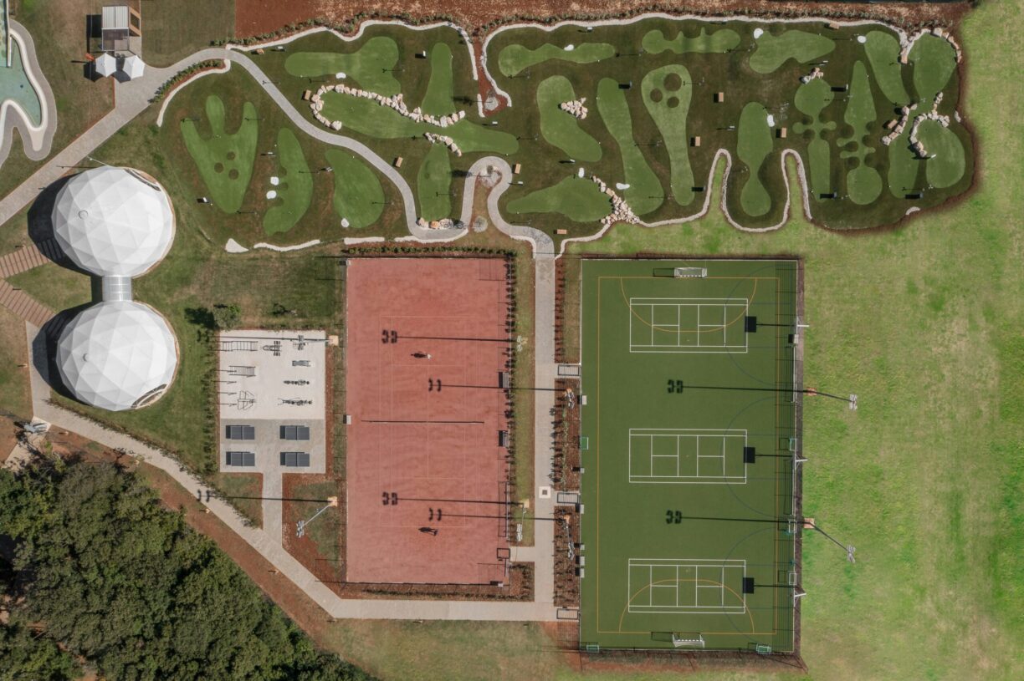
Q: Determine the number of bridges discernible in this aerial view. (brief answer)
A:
0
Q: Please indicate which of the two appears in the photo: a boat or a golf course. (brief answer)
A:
golf course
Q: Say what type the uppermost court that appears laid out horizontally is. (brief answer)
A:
tennis court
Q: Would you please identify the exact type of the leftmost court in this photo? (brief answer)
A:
tennis court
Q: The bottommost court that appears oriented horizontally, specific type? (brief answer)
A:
tennis court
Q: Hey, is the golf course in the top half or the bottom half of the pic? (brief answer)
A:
top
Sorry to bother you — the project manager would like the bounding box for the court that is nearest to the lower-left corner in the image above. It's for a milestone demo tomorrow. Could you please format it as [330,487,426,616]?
[346,258,507,585]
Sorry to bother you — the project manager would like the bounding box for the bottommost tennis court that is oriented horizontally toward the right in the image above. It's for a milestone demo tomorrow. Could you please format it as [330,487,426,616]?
[628,559,746,614]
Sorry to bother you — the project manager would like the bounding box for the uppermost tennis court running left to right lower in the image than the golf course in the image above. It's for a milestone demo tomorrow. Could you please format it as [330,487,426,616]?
[630,298,748,353]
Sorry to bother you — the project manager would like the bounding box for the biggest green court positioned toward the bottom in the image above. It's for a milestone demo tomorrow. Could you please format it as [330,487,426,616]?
[580,259,797,652]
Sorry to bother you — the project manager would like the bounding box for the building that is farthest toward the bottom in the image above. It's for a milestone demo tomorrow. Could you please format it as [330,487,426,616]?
[53,297,178,415]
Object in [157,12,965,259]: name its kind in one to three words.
golf course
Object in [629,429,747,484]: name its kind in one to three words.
tennis court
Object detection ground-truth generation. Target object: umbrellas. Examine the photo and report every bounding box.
[96,53,119,78]
[123,54,147,80]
